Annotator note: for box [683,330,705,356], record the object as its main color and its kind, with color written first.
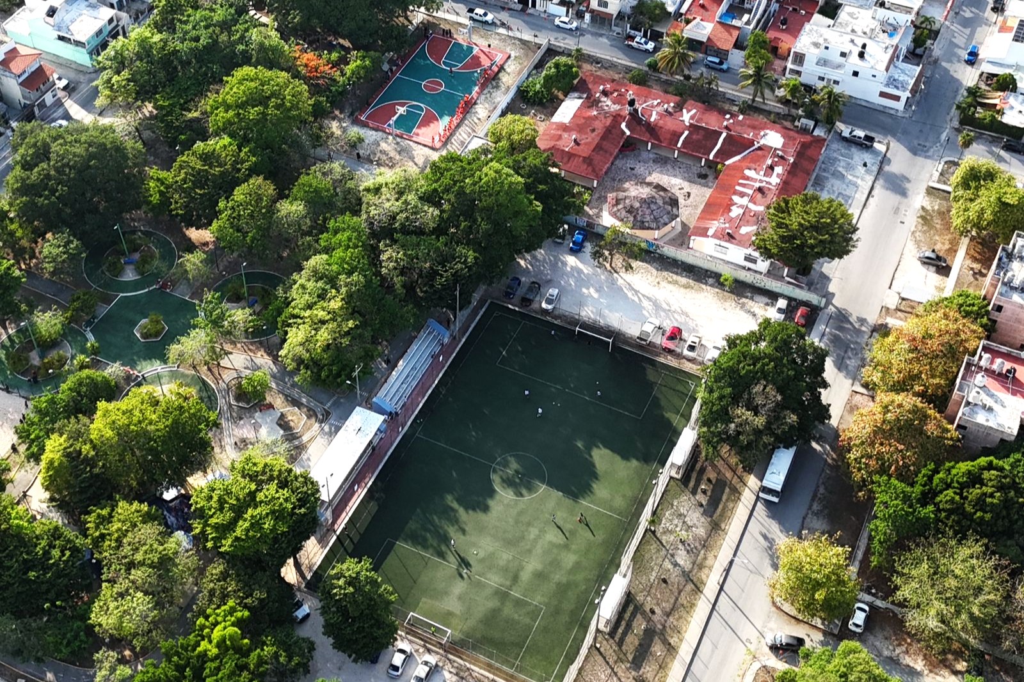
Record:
white car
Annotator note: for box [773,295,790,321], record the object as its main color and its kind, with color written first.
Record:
white car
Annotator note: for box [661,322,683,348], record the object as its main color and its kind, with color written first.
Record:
red car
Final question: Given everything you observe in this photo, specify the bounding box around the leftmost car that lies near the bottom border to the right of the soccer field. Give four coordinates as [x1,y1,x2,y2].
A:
[765,628,806,652]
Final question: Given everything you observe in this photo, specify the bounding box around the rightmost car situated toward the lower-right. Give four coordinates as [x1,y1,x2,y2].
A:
[848,599,872,632]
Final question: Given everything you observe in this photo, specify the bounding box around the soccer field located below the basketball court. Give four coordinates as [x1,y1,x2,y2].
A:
[308,301,705,682]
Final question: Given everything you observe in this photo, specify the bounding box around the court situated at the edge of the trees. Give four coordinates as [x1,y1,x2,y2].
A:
[349,29,511,150]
